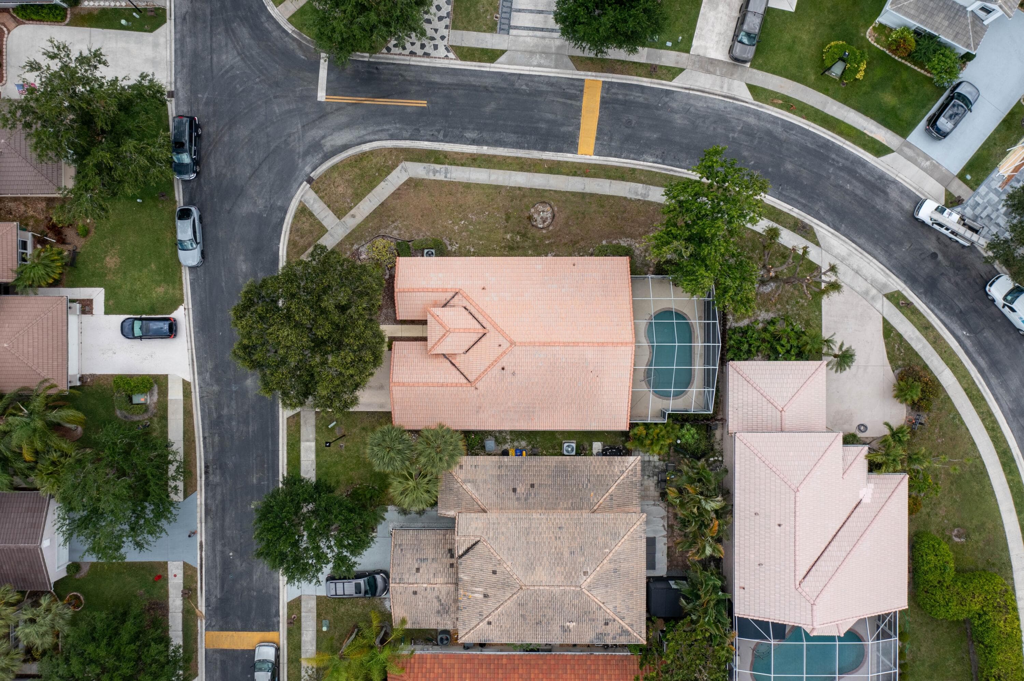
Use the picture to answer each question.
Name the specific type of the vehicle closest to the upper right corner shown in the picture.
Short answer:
car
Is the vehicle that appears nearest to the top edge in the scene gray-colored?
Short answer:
Yes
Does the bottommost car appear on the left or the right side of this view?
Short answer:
left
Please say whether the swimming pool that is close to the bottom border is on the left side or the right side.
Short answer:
right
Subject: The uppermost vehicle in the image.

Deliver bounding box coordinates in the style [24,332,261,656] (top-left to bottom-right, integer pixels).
[730,0,769,58]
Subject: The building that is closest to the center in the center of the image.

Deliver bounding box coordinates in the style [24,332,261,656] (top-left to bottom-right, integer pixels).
[390,257,636,432]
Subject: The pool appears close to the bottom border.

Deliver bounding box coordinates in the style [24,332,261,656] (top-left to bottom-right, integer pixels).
[749,625,869,681]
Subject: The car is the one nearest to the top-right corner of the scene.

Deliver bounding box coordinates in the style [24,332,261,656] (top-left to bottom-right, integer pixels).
[930,76,983,141]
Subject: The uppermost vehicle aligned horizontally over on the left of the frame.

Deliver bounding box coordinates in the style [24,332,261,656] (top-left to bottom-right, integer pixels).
[118,313,179,342]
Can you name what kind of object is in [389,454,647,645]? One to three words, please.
house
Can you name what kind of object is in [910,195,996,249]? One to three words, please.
vehicle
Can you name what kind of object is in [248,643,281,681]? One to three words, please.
car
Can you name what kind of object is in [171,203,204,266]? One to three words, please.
car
